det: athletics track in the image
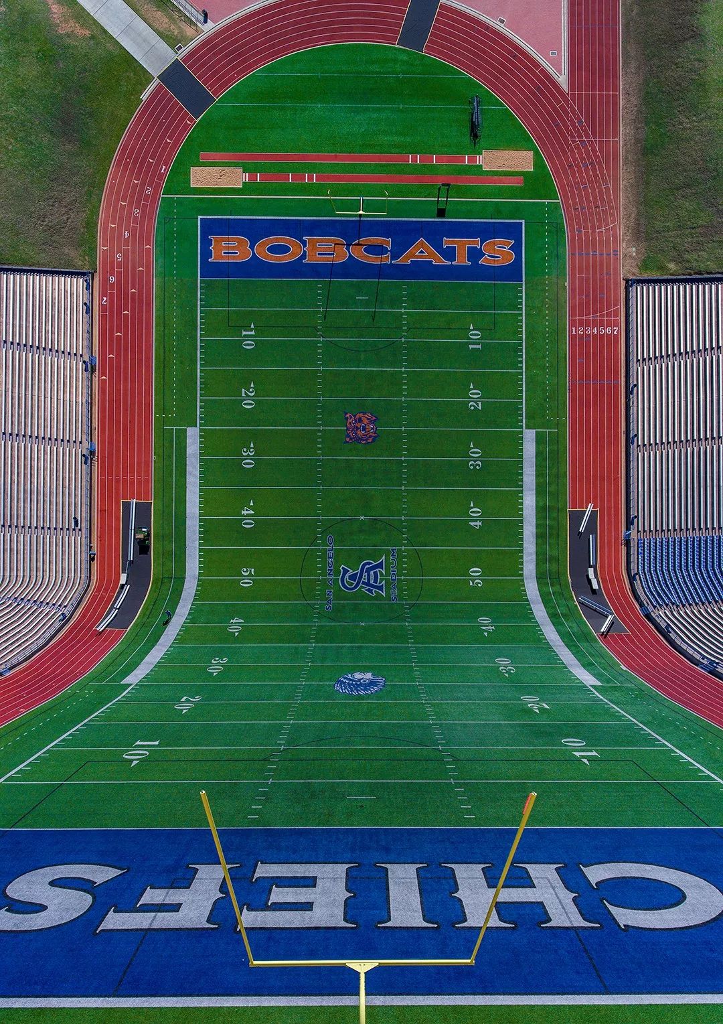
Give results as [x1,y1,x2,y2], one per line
[0,0,723,730]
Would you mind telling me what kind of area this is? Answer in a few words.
sports ground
